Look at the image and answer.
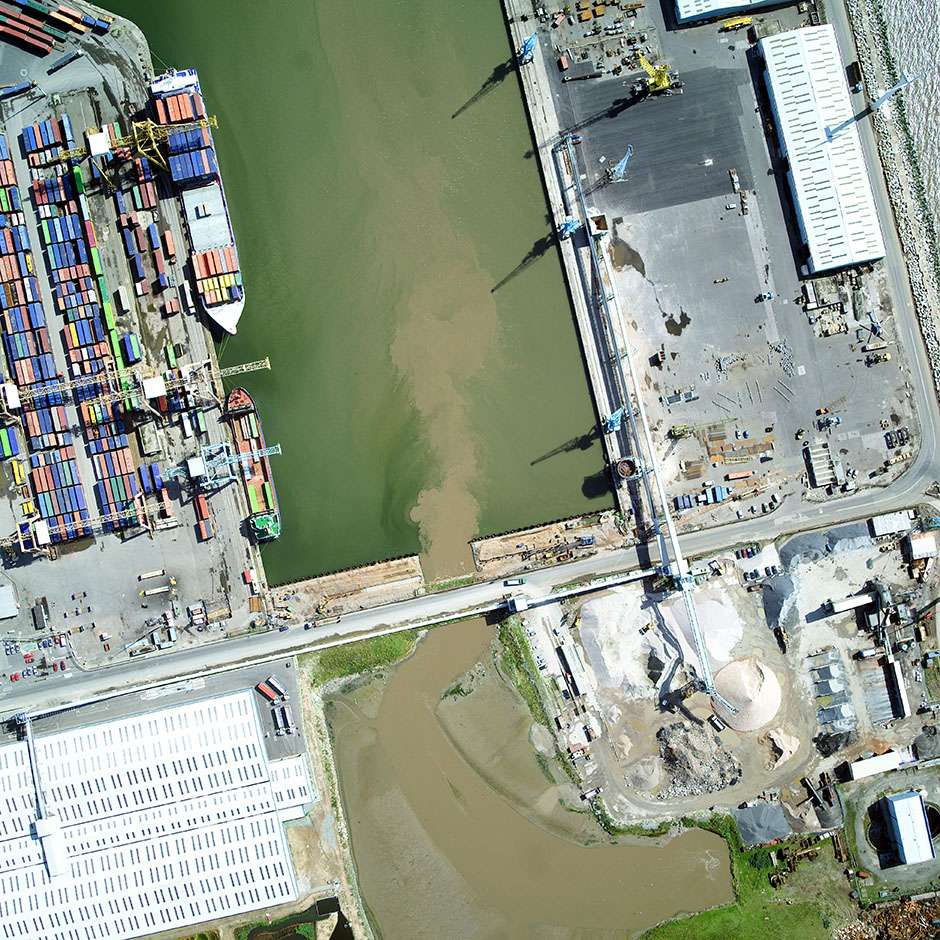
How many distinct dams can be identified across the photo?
0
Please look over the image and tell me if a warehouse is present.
Yes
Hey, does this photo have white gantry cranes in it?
Yes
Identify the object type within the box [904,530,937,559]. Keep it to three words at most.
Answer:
building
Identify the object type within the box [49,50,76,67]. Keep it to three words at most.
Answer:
vehicle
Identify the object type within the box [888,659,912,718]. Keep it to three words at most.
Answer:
shed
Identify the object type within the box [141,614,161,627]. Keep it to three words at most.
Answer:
vehicle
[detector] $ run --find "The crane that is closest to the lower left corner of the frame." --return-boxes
[0,492,169,562]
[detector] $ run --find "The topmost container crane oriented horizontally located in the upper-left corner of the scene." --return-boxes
[57,115,218,199]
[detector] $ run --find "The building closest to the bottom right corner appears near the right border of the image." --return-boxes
[883,786,935,866]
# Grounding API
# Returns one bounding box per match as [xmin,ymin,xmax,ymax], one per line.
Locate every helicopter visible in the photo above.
[870,311,893,340]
